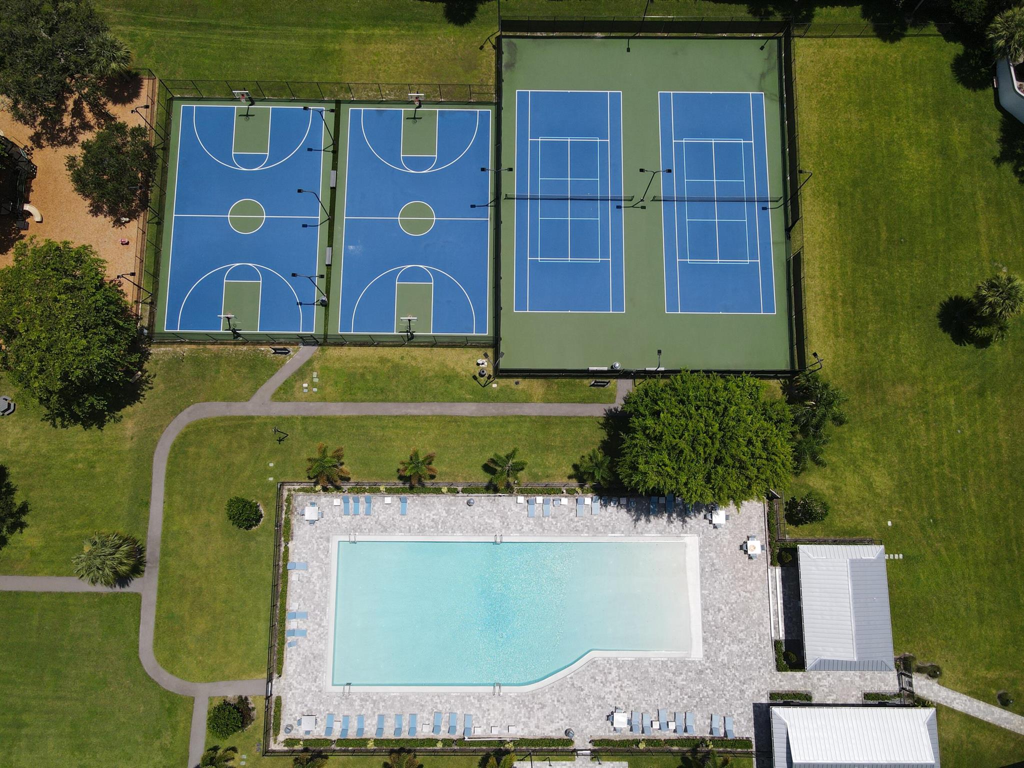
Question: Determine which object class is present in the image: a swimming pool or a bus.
swimming pool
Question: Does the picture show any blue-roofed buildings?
No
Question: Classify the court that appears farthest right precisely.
tennis court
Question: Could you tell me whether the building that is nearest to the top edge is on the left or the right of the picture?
right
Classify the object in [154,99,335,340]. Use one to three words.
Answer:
basketball court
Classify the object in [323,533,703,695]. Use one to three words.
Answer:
swimming pool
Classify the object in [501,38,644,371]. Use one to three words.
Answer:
tennis court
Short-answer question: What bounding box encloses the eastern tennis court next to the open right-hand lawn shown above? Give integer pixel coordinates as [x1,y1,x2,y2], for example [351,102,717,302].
[641,38,793,369]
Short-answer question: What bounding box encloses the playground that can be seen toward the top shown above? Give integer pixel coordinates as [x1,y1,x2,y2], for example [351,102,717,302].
[0,77,156,370]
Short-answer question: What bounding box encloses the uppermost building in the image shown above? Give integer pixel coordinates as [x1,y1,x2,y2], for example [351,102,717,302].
[795,544,895,672]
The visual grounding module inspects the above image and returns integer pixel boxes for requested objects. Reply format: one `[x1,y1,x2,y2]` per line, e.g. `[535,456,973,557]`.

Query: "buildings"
[795,544,895,672]
[769,706,941,768]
